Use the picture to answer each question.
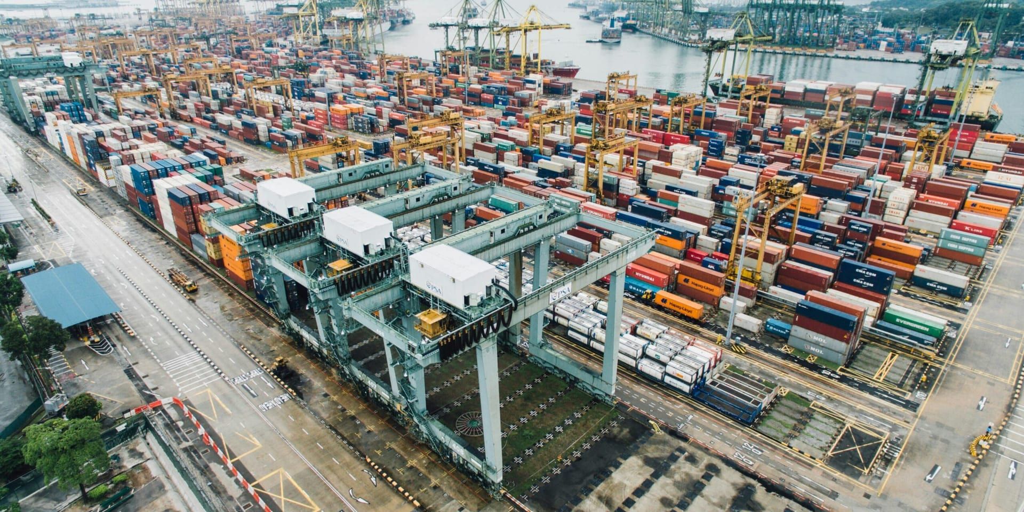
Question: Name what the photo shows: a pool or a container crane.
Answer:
container crane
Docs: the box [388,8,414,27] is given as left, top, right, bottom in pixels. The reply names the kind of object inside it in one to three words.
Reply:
ship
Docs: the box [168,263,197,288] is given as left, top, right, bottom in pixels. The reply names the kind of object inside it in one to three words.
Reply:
truck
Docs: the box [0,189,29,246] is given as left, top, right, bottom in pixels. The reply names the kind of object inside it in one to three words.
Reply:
shed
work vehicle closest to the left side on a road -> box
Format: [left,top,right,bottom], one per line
[2,181,29,193]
